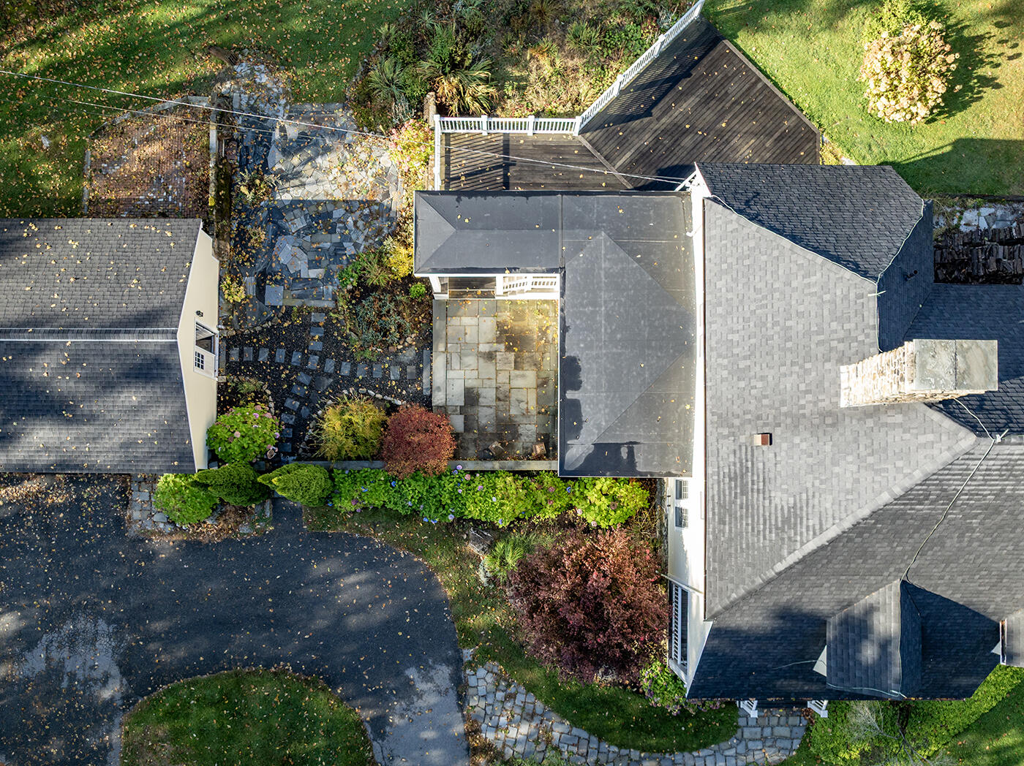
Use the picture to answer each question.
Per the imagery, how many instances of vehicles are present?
0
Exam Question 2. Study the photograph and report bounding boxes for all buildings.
[0,218,223,474]
[413,162,1024,721]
